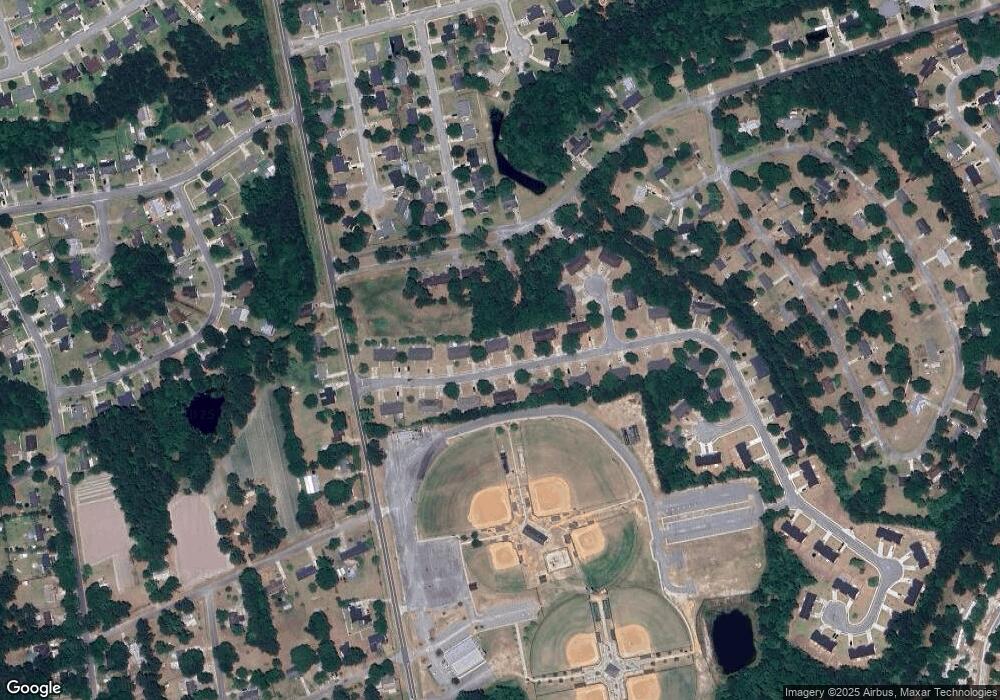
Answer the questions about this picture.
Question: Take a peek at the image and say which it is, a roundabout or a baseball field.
baseball field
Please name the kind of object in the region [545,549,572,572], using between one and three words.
playground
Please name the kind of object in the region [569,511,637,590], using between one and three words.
baseball field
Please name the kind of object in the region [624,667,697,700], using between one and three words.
baseball field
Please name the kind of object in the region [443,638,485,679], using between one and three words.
building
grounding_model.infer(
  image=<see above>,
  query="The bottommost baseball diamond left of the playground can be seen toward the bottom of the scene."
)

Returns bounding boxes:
[463,538,524,594]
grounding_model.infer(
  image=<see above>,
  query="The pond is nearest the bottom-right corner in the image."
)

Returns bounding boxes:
[712,608,755,674]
